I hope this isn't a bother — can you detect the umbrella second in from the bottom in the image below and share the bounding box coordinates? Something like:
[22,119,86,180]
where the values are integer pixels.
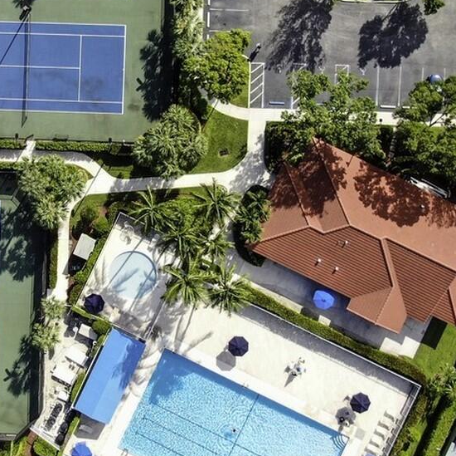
[348,391,370,412]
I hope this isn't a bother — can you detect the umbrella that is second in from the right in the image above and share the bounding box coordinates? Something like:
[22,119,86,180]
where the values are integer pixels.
[311,287,335,310]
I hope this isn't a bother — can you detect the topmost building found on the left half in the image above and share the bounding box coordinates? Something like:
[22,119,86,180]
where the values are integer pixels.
[71,233,98,259]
